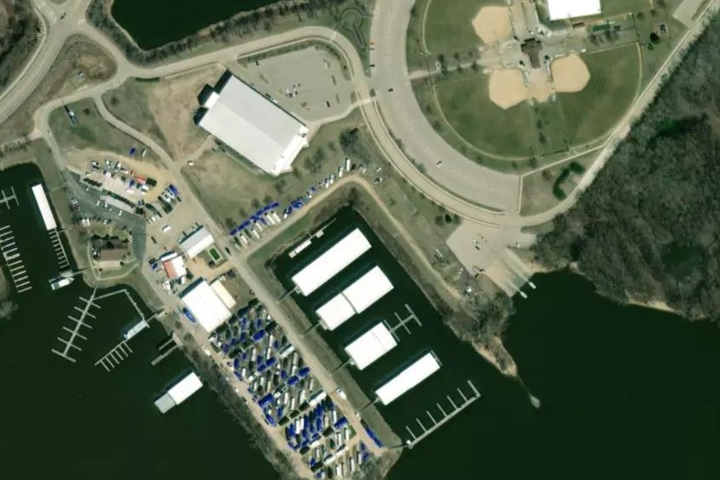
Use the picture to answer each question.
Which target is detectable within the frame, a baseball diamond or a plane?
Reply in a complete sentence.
The one in the frame is a baseball diamond.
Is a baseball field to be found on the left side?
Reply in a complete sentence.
No, no baseball field can be made out on the left side.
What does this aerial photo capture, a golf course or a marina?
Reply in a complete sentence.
This looks like a marina.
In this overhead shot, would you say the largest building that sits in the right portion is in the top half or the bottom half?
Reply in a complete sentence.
The top half of the photo is where the largest building that sits in the right portion is.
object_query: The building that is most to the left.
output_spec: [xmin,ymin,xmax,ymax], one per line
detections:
[92,241,129,261]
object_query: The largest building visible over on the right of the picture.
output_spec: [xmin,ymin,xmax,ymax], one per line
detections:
[523,40,543,68]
